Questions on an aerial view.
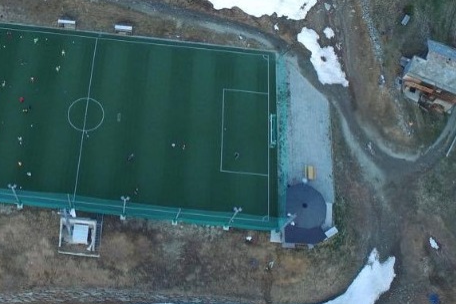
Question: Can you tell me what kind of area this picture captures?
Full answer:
The area seen from above is a sports ground.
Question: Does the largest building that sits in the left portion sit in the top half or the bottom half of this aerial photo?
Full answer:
The bottom half of the photo is where the largest building that sits in the left portion is.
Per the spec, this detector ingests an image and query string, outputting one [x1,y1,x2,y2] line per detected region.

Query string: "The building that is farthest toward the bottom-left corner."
[69,222,89,248]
